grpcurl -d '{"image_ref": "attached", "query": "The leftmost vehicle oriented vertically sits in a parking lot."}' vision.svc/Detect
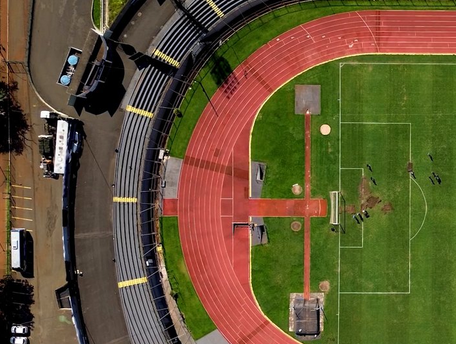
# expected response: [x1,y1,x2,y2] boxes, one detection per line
[11,226,29,270]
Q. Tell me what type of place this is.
sports ground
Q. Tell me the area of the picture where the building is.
top left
